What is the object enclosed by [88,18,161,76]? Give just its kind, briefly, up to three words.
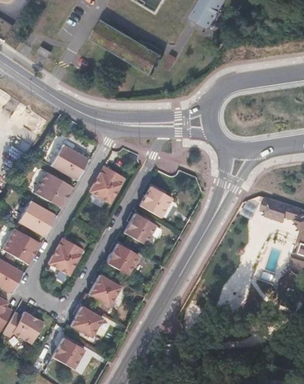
building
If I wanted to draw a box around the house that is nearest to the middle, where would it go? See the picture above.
[140,186,174,220]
